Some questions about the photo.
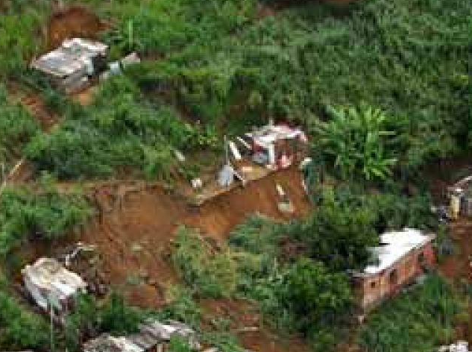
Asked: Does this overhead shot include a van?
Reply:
No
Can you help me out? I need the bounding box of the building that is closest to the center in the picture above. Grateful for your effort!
[253,124,308,166]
